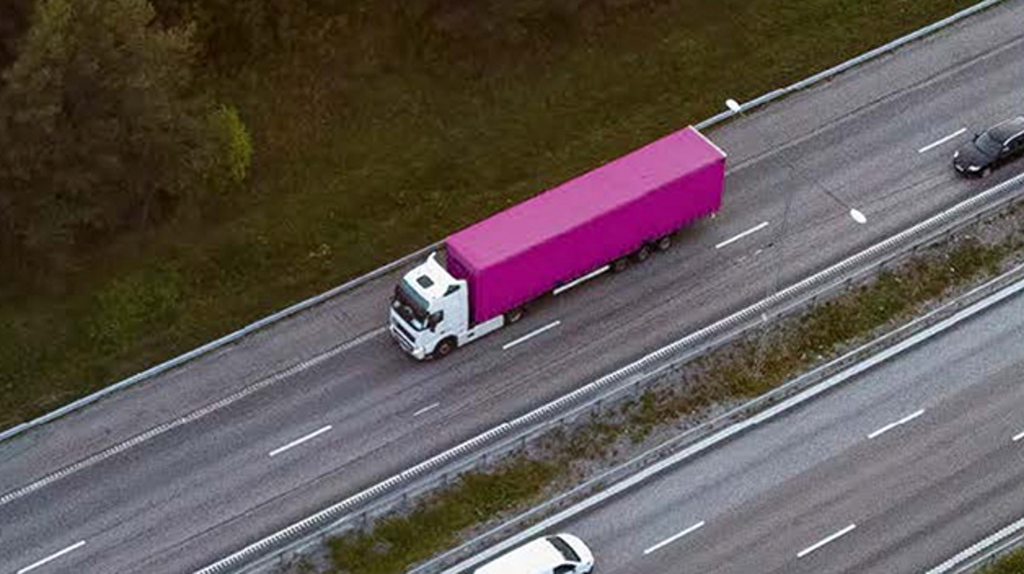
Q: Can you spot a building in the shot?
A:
No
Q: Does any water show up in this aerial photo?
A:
No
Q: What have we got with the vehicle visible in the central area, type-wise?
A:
truck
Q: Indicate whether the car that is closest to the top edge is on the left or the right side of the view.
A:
right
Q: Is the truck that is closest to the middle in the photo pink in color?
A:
Yes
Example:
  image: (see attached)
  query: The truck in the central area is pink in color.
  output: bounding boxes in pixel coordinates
[387,128,728,356]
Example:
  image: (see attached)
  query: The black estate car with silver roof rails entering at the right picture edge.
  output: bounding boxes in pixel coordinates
[948,115,1024,182]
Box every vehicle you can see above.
[478,536,592,574]
[948,115,1024,182]
[387,128,728,356]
